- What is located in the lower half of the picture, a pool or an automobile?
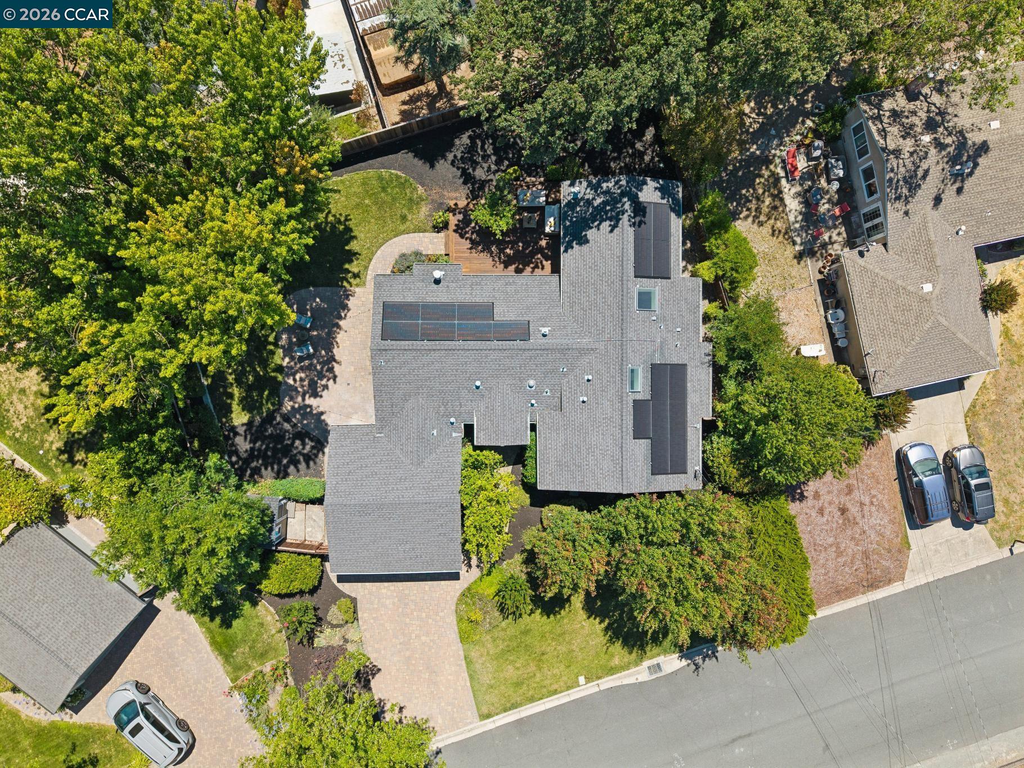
automobile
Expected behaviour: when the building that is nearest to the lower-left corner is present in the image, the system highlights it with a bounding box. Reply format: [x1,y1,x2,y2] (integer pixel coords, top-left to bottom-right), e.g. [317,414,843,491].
[0,519,154,714]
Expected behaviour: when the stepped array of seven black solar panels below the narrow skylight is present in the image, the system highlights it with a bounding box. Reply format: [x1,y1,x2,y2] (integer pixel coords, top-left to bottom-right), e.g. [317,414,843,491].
[631,363,688,475]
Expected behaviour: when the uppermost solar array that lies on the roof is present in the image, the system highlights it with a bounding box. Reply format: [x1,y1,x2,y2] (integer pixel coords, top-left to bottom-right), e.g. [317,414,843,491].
[632,202,670,279]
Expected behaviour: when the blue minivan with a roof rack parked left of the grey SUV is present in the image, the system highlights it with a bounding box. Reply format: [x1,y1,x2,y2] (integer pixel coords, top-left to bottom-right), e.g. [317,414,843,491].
[897,439,956,529]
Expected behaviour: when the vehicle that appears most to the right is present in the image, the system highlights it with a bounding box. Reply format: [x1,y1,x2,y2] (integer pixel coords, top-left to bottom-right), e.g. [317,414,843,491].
[944,444,998,524]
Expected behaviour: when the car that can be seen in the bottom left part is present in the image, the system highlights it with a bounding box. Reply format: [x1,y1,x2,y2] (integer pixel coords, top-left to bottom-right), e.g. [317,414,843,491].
[109,681,191,765]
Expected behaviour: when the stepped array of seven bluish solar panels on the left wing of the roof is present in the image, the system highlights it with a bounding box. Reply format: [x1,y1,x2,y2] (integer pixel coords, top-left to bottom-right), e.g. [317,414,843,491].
[382,302,530,342]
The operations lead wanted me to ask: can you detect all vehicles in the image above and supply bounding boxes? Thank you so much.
[897,439,956,529]
[109,681,191,765]
[944,444,998,524]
